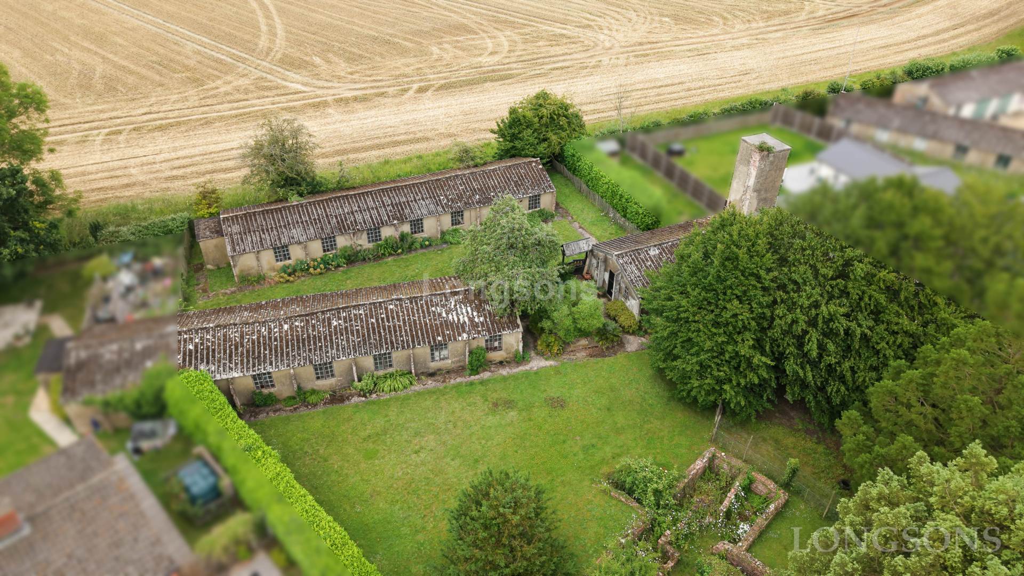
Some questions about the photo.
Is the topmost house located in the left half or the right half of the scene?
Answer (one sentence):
The topmost house sits on the right side.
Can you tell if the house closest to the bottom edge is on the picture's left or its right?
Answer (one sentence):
The house closest to the bottom edge is on the left side of the image.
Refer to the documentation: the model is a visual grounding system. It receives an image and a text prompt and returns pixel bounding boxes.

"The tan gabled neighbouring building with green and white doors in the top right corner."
[886,58,1024,127]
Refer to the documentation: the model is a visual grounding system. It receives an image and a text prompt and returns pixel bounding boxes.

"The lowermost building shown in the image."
[0,434,207,576]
